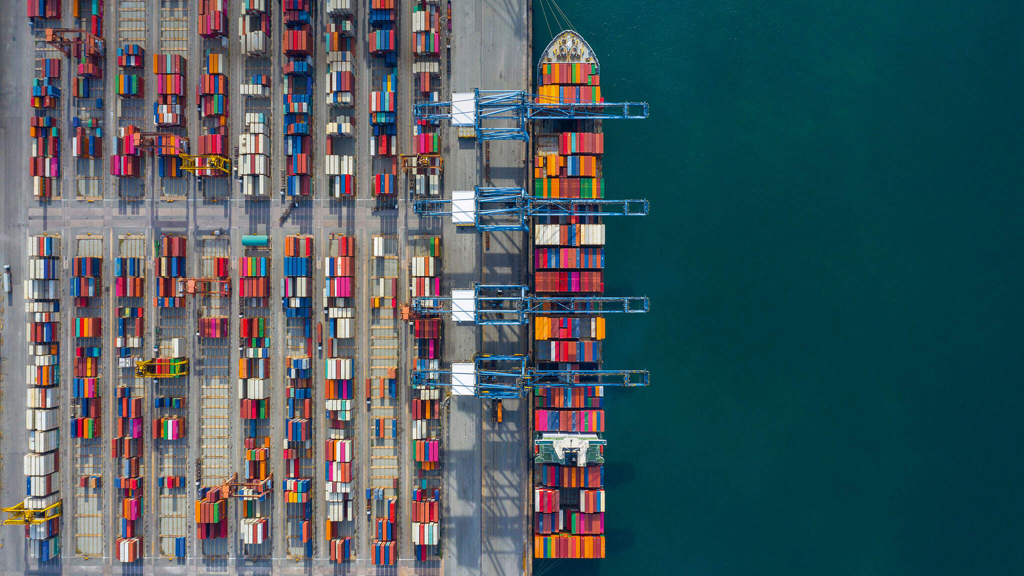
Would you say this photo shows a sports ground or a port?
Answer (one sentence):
It's a port.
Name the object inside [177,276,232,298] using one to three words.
container crane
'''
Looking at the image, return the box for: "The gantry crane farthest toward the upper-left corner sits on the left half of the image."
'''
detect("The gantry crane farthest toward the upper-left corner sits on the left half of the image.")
[45,28,107,58]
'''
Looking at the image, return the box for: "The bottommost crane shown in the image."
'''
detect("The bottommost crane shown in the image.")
[1,495,62,525]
